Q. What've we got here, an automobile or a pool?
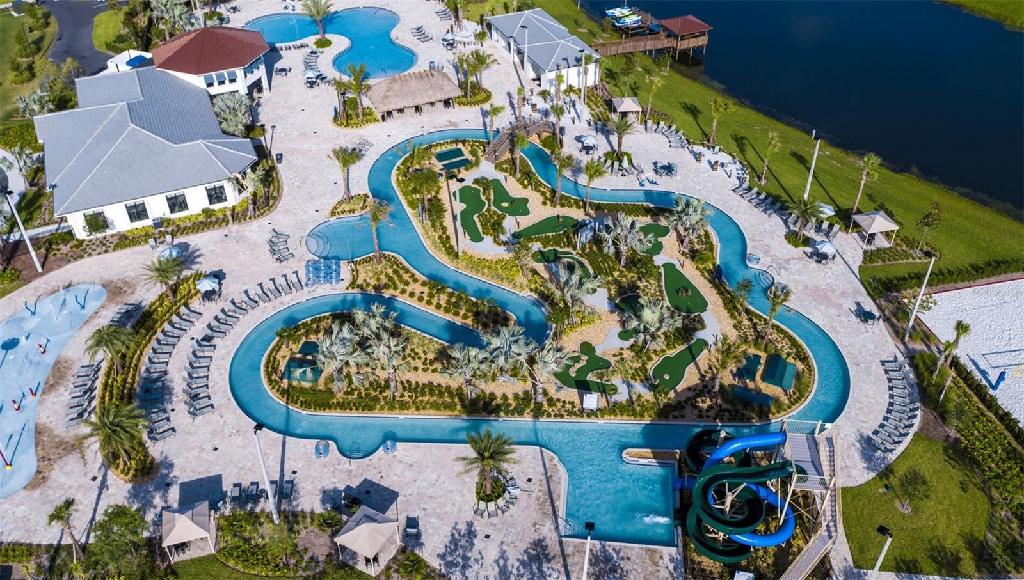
pool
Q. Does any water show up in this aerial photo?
Yes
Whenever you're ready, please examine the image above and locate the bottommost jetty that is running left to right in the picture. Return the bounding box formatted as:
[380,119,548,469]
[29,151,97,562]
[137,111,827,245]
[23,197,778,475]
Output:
[593,32,674,59]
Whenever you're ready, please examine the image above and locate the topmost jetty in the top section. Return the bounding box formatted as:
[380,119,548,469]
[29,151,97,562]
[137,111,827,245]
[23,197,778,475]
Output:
[617,0,663,33]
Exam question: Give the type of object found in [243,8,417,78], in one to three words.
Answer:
swimming pool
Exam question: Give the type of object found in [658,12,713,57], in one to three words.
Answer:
gazebo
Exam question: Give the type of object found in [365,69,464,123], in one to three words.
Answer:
shed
